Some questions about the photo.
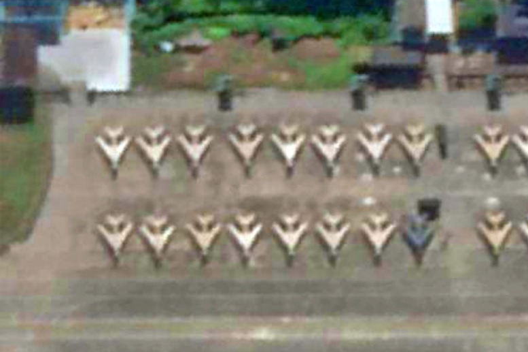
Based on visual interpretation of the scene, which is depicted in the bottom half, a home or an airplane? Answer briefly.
airplane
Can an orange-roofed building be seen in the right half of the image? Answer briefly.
No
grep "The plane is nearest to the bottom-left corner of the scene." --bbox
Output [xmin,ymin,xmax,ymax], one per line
[97,215,132,262]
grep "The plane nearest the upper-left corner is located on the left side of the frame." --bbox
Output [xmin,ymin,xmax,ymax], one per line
[96,125,131,172]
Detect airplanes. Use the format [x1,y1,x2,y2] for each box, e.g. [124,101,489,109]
[475,123,510,170]
[479,212,513,258]
[273,214,308,261]
[186,214,221,261]
[136,125,171,172]
[177,124,212,171]
[316,214,351,261]
[357,123,392,170]
[228,123,263,170]
[96,125,131,172]
[513,122,528,158]
[272,123,307,171]
[227,214,262,261]
[139,215,174,262]
[361,213,396,259]
[398,122,432,169]
[97,215,132,262]
[401,213,436,259]
[312,124,347,171]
